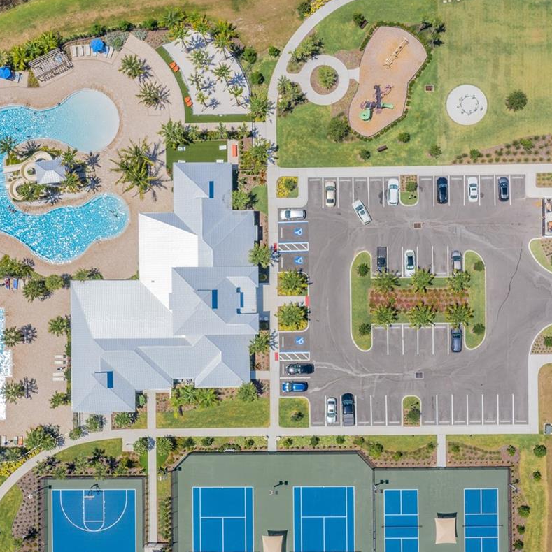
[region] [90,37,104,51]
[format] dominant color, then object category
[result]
blue umbrella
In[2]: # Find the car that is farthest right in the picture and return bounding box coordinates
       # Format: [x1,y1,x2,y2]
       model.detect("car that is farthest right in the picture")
[497,176,510,202]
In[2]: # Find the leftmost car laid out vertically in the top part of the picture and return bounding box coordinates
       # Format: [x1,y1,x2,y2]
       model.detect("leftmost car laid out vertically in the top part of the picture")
[325,180,337,207]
